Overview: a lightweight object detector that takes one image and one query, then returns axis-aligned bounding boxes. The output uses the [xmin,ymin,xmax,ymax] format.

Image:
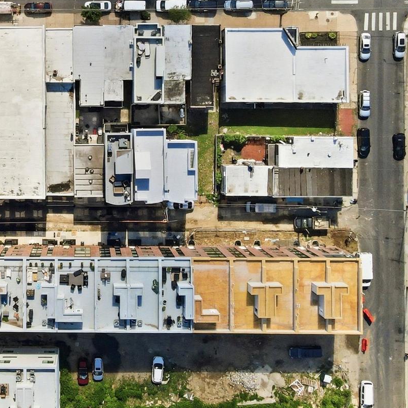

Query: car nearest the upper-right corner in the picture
[392,32,406,59]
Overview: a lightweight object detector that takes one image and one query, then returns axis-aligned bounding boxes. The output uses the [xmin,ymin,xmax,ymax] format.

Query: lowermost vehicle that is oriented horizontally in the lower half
[288,346,323,360]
